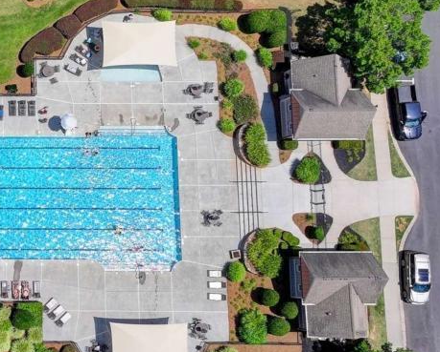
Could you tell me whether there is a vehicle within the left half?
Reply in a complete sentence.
No, the scene shows no vehicle within the left half.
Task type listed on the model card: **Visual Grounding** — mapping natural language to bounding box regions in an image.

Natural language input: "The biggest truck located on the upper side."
[392,84,429,140]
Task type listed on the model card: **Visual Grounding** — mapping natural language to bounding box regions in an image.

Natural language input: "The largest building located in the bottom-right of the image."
[283,251,392,341]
